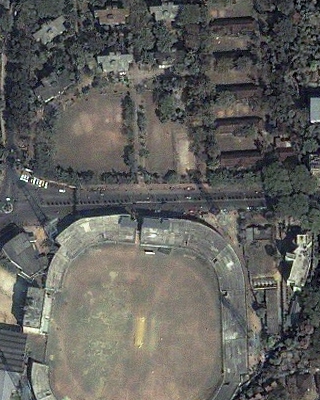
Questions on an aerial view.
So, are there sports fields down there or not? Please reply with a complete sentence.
Yes, there's a sports field here.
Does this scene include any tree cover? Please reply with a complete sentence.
Yes, some tree cover is visible.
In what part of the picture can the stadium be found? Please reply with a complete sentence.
The stadium appears toward the bottom of the photo.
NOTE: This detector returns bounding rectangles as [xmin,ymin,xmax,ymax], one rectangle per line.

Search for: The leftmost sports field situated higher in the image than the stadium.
[54,92,128,172]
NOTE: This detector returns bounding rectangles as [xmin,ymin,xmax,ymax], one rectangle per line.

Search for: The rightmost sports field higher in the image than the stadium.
[143,88,199,172]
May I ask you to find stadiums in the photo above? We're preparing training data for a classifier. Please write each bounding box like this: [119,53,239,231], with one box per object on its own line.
[23,212,247,400]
